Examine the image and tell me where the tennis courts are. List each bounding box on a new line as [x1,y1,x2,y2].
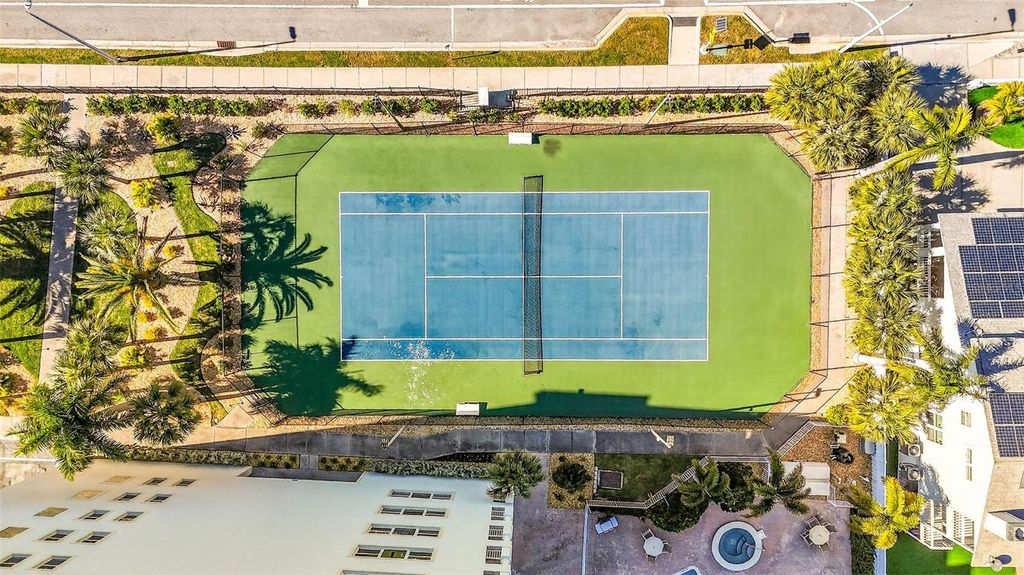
[241,133,812,416]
